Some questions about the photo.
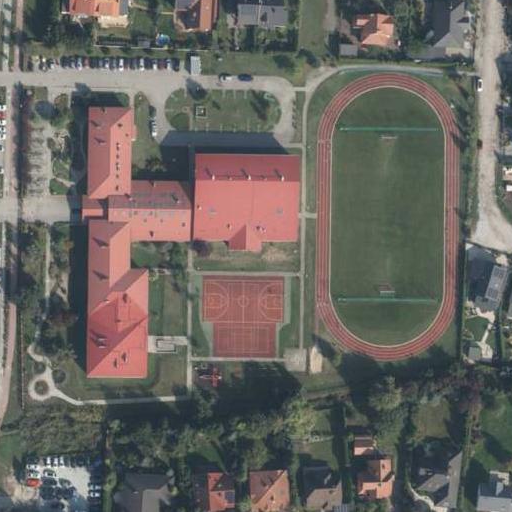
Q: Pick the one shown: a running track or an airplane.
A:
running track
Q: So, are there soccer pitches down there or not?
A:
Yes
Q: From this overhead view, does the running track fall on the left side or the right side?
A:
right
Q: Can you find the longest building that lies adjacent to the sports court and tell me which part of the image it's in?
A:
left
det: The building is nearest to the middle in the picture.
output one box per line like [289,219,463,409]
[194,154,301,252]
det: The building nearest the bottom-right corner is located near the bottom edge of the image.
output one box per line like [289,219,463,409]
[477,470,512,512]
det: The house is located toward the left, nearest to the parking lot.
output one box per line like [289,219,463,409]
[116,474,169,512]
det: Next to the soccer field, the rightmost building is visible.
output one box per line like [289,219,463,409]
[466,257,510,312]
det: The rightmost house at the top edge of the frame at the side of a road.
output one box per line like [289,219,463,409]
[428,0,471,53]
